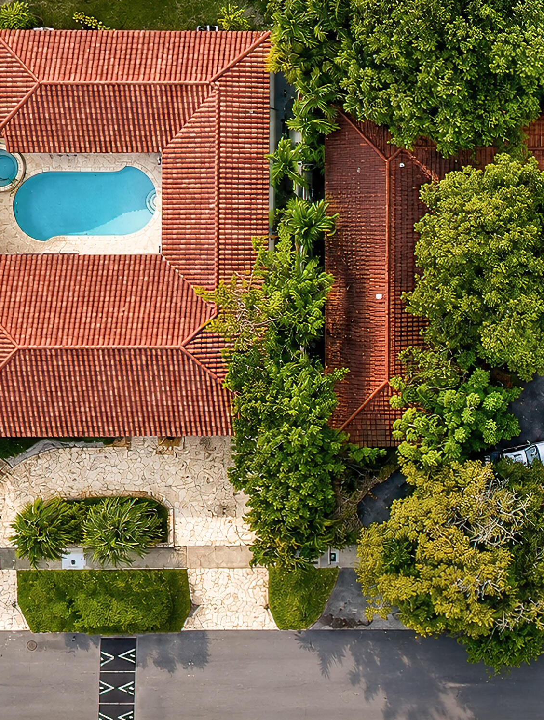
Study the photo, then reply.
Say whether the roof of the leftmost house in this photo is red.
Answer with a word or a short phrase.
Yes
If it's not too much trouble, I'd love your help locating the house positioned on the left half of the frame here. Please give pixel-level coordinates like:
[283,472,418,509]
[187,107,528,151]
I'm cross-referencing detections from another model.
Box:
[0,28,276,436]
